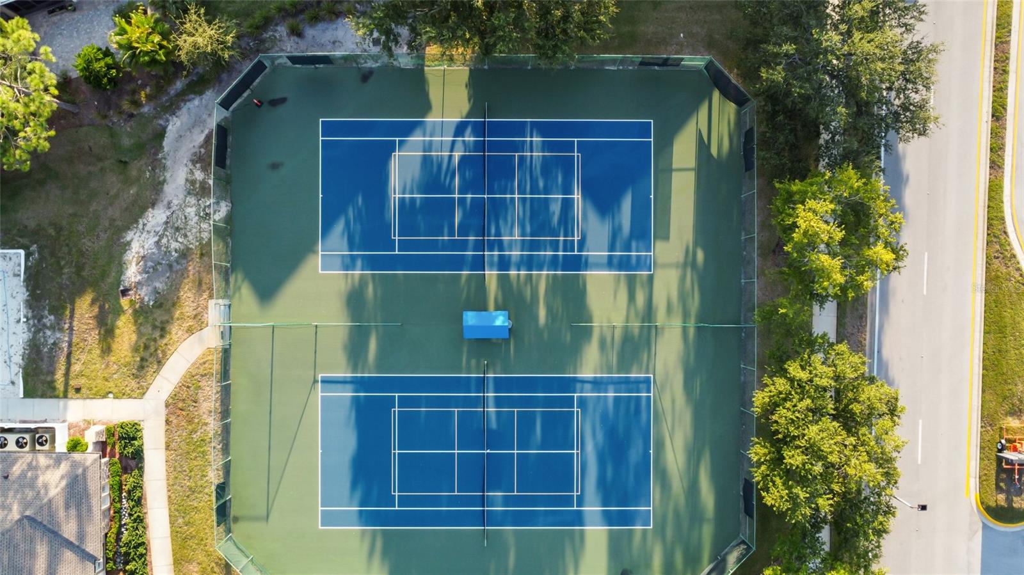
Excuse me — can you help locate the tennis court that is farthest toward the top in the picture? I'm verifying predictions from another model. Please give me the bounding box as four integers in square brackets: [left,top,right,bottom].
[320,119,652,273]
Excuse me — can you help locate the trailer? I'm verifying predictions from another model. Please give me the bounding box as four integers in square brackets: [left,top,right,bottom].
[996,424,1024,488]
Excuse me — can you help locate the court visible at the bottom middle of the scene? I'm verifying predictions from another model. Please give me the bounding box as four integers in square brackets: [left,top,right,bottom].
[319,375,652,529]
